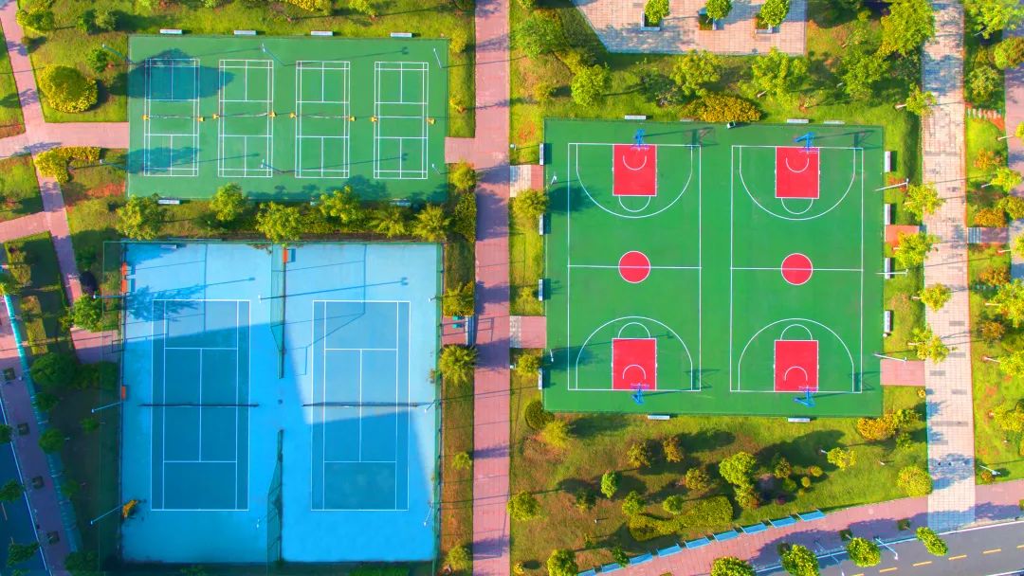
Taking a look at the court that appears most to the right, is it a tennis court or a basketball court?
basketball court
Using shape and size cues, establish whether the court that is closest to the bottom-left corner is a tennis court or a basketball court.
tennis court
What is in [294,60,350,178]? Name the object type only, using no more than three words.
sports court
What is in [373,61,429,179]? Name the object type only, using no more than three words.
sports court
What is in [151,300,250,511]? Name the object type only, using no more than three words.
tennis court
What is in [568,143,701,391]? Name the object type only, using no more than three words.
basketball court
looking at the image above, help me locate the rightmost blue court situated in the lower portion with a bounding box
[311,301,410,511]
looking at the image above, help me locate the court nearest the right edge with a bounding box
[730,145,863,393]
